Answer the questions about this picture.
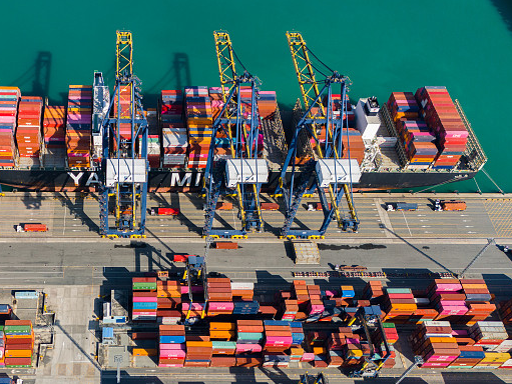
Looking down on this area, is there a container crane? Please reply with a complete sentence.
Yes, this view includes a container crane.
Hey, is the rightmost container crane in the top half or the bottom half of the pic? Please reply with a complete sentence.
Seen from above, the rightmost container crane lies in the bottom half of the view.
